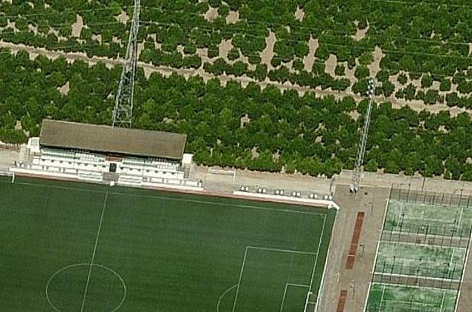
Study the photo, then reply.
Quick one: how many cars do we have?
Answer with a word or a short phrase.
0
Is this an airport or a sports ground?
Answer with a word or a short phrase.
sports ground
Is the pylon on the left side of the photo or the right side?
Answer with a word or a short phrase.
left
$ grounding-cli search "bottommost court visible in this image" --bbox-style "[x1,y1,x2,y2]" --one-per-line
[363,266,460,312]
